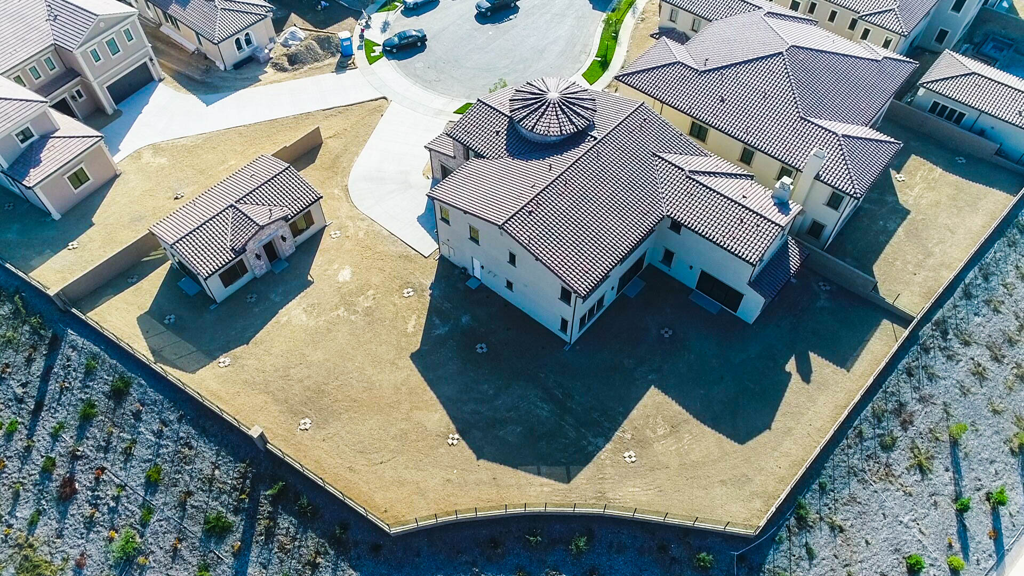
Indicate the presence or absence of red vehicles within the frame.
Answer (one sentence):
No, no red vehicle is visible in the scene.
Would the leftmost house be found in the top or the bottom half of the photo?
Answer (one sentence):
It is in the top half that the leftmost house appears.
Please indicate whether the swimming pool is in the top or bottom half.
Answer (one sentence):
You can find the swimming pool in the top half.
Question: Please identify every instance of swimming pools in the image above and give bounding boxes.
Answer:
[950,24,1024,79]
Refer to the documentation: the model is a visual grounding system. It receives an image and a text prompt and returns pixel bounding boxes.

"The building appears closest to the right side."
[910,48,1024,163]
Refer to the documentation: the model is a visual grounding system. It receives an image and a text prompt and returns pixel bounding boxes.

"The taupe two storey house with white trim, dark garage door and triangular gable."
[0,0,164,221]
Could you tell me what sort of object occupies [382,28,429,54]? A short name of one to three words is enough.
car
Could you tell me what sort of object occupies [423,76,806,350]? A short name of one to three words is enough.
house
